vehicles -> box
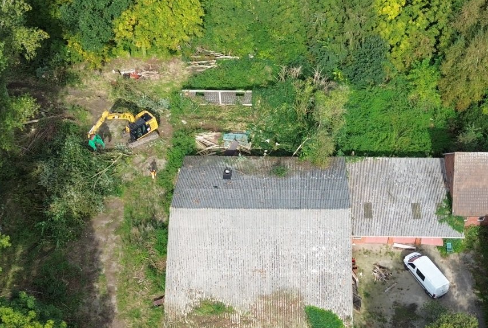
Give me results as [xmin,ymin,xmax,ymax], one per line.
[92,112,161,161]
[402,254,452,299]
